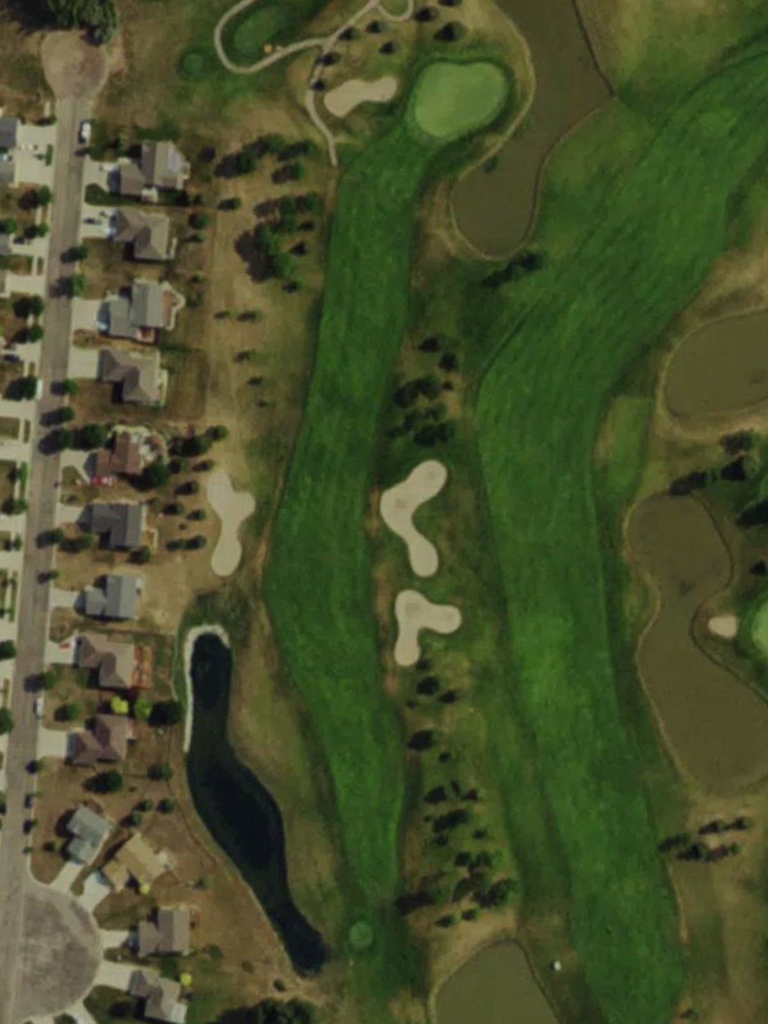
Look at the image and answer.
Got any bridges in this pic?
No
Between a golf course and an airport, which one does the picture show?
golf course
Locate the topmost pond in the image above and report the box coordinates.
[452,0,611,258]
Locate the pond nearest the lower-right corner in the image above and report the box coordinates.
[436,939,557,1024]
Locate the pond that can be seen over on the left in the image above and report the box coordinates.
[187,633,326,972]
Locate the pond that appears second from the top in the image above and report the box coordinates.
[665,309,768,417]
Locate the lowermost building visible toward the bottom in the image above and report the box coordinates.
[131,973,186,1024]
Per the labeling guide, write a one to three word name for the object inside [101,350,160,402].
house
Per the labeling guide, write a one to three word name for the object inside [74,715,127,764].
house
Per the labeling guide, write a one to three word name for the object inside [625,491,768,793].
pond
